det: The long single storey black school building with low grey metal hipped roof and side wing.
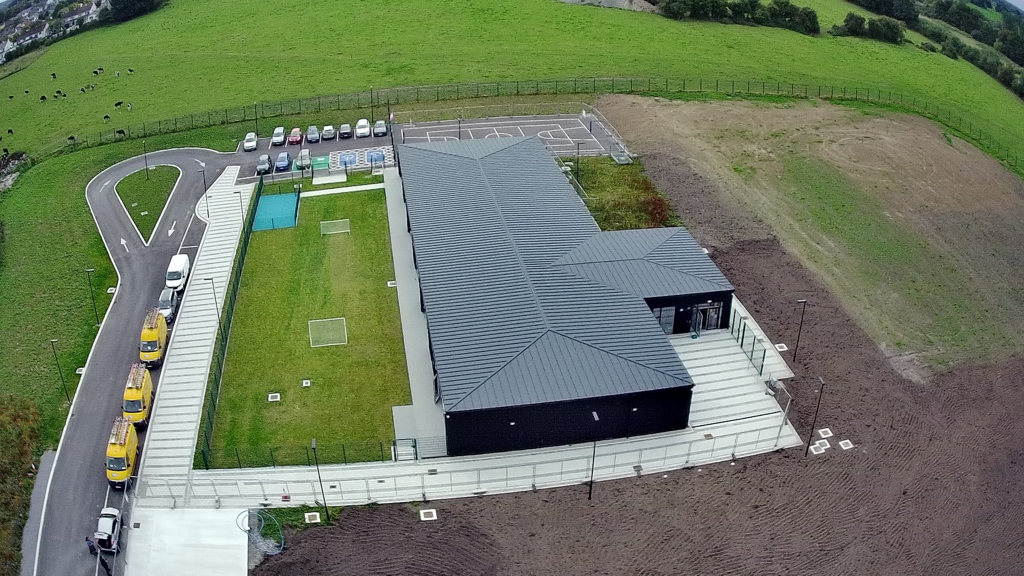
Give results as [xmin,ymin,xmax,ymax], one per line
[399,136,734,456]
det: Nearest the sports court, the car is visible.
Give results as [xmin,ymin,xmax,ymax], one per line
[372,119,387,135]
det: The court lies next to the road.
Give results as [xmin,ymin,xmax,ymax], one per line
[393,114,623,169]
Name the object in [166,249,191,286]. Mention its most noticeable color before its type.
white vehicle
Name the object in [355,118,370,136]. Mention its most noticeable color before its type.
white car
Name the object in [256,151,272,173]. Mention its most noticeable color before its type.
gray car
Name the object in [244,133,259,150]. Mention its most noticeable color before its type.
white car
